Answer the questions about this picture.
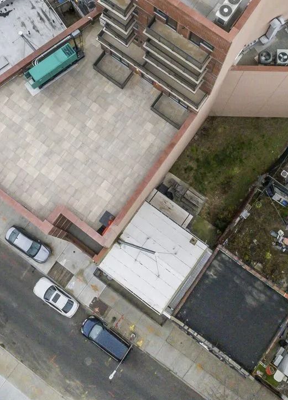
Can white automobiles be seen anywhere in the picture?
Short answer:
Yes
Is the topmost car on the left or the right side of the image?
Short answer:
left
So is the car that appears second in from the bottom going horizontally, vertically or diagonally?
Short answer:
diagonally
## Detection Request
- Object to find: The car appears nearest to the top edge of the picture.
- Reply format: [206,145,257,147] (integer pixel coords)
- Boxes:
[0,220,56,269]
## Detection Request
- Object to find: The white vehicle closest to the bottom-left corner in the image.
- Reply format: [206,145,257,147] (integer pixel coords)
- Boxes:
[28,272,85,327]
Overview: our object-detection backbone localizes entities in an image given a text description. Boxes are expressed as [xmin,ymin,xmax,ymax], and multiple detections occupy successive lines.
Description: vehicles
[75,311,137,371]
[0,220,56,269]
[28,272,85,327]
